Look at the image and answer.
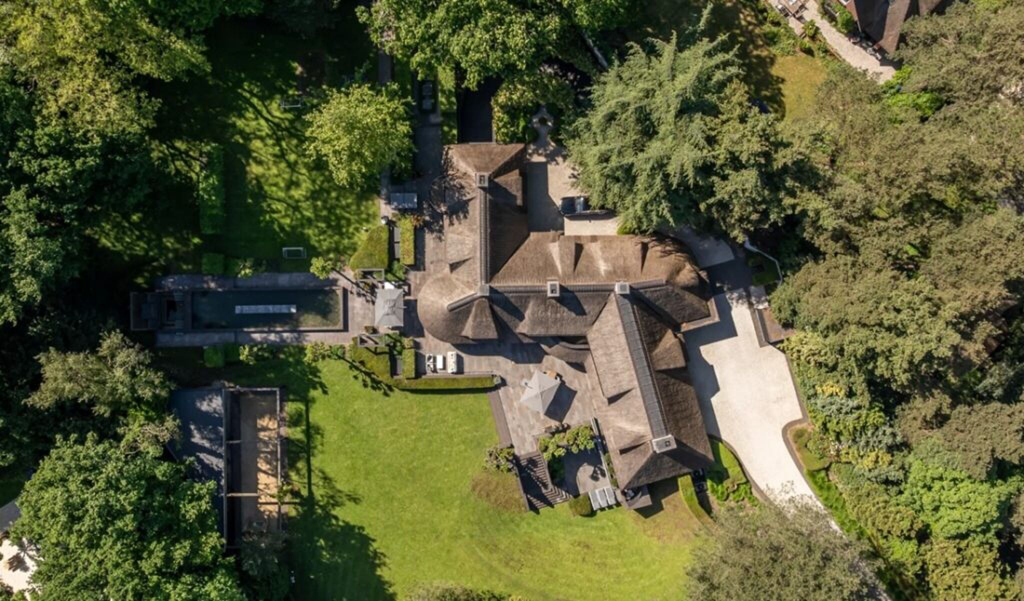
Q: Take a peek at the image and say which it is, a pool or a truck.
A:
pool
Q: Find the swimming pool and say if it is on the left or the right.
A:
left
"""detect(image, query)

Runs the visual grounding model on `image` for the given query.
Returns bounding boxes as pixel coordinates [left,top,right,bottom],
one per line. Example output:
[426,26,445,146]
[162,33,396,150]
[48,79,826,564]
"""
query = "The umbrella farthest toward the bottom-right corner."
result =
[521,370,561,414]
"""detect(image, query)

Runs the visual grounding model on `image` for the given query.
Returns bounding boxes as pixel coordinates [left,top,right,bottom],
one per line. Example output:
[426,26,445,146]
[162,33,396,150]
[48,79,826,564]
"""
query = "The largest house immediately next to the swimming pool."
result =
[417,145,720,488]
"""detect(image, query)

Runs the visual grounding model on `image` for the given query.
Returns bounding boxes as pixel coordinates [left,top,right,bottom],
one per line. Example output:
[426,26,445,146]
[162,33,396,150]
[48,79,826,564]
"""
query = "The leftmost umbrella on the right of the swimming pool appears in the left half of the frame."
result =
[375,289,404,326]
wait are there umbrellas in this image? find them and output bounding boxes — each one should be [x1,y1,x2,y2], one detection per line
[375,289,404,326]
[521,370,561,414]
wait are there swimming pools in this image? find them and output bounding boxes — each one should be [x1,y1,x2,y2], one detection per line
[186,286,348,332]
